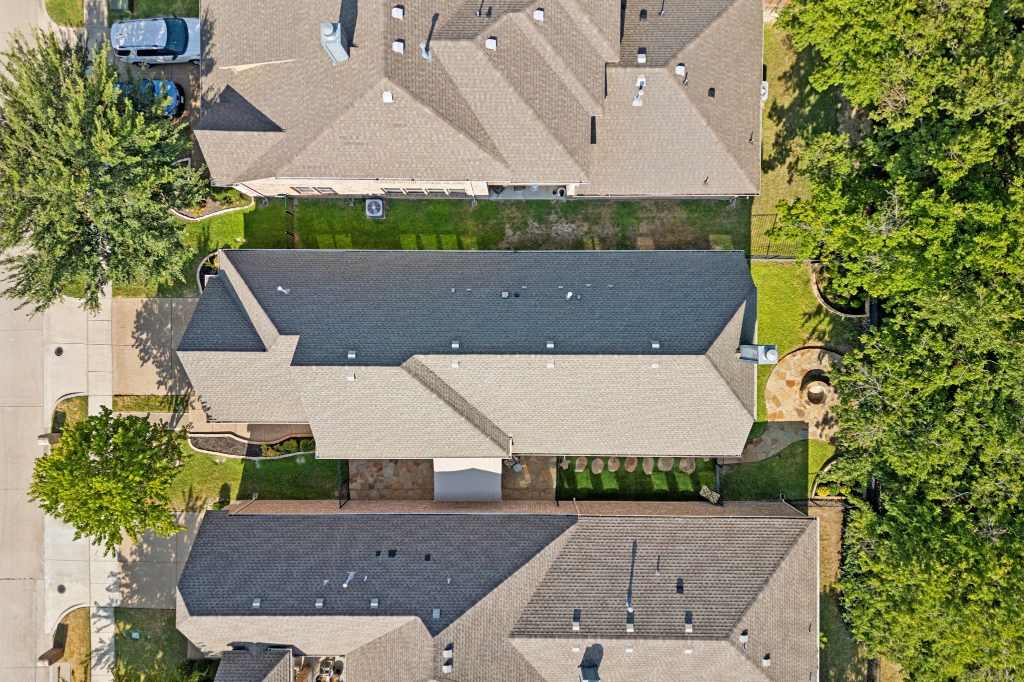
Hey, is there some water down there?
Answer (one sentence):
No, the picture contains no water.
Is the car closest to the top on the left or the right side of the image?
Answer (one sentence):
It is on the left.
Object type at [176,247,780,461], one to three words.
house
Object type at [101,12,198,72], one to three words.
car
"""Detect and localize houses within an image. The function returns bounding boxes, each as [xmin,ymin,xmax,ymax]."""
[194,0,764,207]
[175,493,820,682]
[176,247,780,461]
